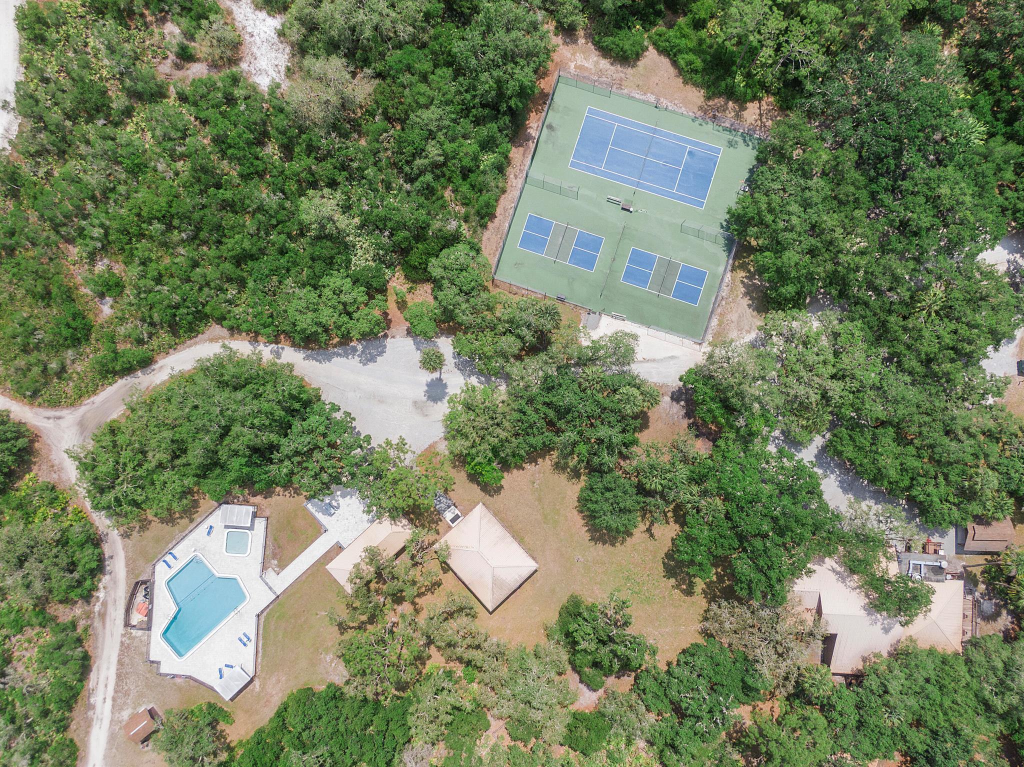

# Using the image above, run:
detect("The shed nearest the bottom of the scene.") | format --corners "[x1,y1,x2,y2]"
[124,703,166,743]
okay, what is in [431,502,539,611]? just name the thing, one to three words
building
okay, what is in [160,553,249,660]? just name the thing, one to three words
swimming pool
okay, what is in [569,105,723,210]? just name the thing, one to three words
tennis court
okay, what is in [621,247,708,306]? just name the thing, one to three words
sports court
